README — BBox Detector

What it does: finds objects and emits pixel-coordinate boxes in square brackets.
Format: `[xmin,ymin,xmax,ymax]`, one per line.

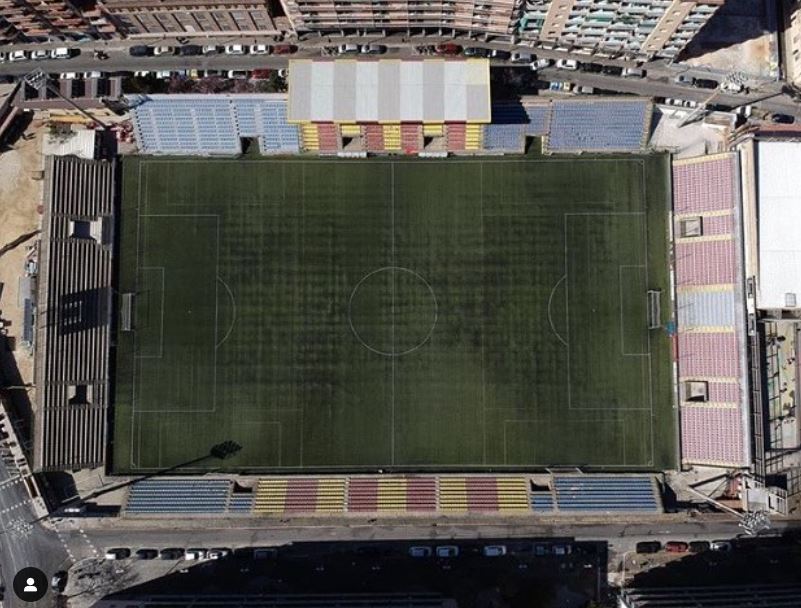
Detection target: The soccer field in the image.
[107,133,681,474]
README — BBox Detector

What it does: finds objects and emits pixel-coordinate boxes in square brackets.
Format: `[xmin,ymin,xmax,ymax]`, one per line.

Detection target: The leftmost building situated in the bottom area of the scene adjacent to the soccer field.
[0,347,63,524]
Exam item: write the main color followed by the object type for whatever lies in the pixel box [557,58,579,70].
white vehicle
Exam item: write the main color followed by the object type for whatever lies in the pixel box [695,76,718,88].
black vehicle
